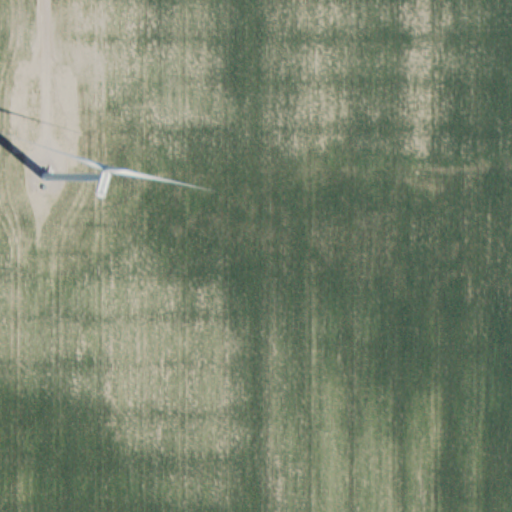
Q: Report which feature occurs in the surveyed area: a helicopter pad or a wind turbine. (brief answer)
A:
wind turbine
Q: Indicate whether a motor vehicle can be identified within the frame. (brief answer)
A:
No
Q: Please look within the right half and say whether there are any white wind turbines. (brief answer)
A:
No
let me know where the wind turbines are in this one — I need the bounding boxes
[37,144,214,196]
